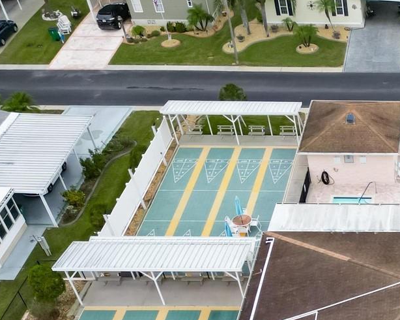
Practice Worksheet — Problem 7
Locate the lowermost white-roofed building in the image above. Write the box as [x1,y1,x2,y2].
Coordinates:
[51,238,253,305]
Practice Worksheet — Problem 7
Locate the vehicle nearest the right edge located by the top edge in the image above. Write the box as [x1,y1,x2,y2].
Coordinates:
[97,0,127,24]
